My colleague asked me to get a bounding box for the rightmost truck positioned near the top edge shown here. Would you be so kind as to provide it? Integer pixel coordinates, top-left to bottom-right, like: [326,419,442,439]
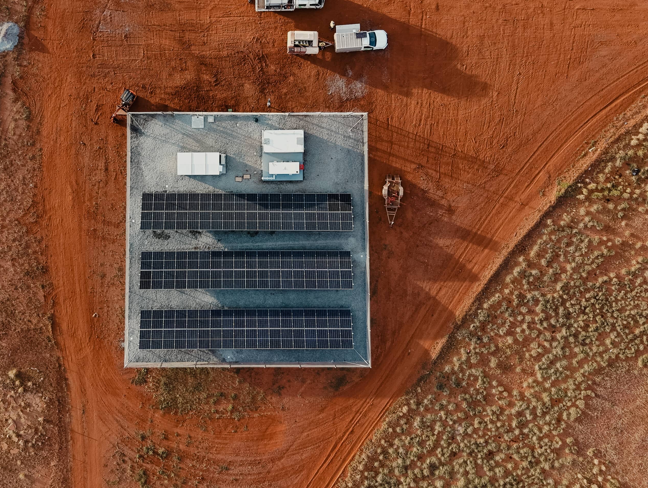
[332,17,389,52]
